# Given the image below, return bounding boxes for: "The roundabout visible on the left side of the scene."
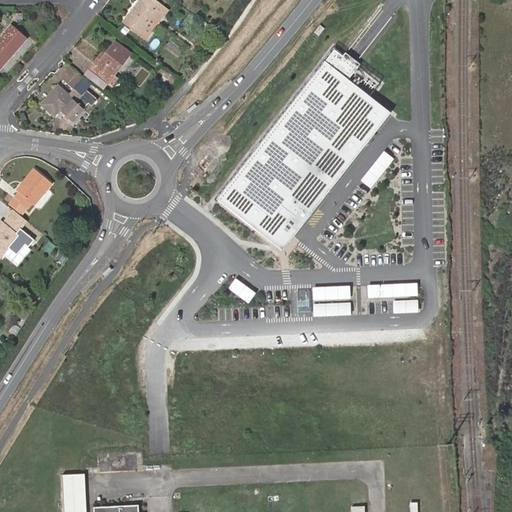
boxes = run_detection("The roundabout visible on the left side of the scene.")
[95,138,178,220]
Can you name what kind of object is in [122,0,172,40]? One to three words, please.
house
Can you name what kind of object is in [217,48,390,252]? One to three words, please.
building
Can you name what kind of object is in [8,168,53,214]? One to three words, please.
house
